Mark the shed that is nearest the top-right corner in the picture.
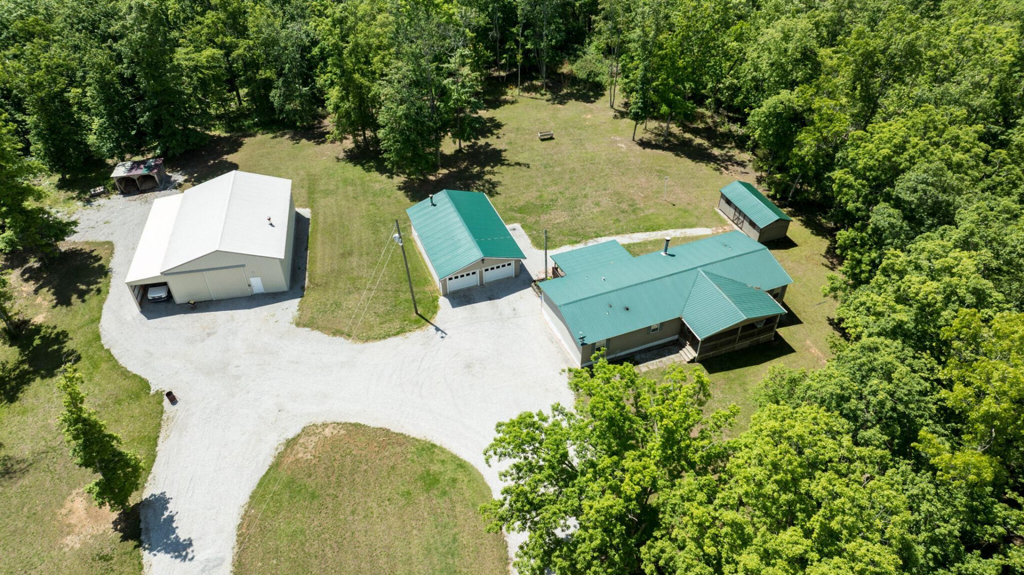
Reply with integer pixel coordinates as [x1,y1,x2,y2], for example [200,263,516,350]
[712,181,793,243]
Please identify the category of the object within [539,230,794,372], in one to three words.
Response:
house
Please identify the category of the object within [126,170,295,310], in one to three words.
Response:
barn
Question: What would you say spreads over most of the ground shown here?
trees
